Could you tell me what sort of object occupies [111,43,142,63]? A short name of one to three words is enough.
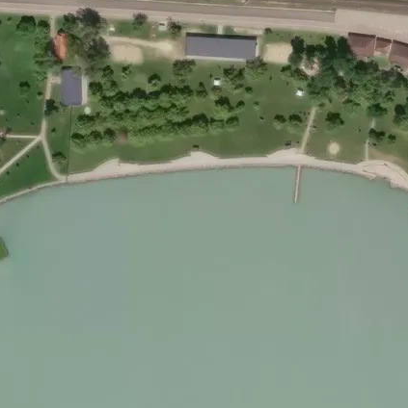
sports court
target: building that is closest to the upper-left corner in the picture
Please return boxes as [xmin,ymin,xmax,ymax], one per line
[54,32,68,61]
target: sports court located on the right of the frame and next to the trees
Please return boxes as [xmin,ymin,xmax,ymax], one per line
[264,42,293,63]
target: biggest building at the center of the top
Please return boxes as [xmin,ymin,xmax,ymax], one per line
[185,35,258,59]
